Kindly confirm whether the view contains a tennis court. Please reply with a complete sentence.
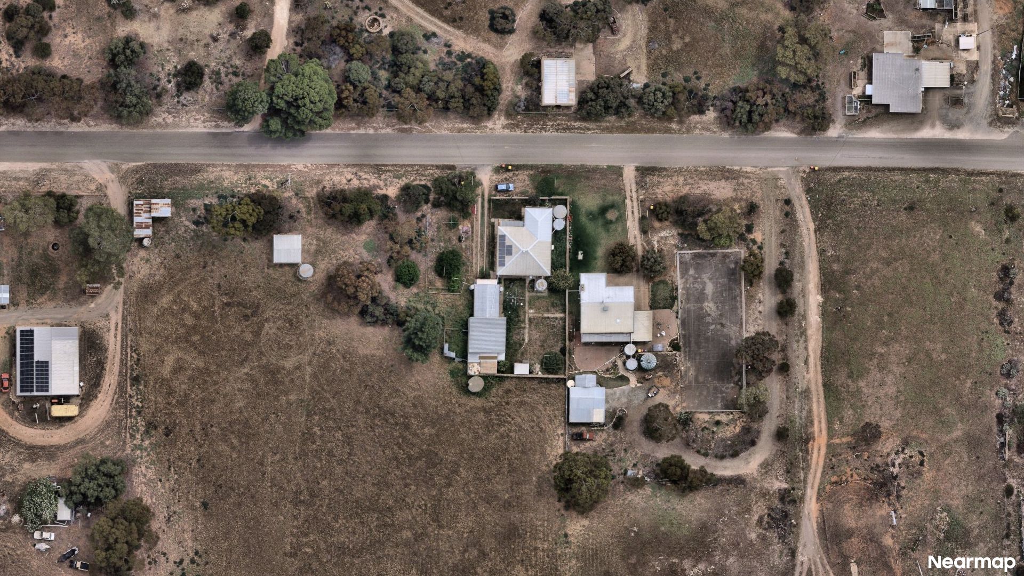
Yes, the frame does contain a tennis court.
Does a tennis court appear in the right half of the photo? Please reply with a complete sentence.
Yes, you'll find a tennis court in the right half of the photo.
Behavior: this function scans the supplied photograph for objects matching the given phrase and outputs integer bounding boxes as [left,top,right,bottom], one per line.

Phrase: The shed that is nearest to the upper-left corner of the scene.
[133,199,170,237]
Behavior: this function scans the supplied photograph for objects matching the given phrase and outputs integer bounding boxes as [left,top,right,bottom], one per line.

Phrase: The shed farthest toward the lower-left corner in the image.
[56,497,70,521]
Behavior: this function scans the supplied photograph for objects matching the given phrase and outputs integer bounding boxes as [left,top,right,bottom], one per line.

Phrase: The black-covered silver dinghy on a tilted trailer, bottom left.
[56,547,78,565]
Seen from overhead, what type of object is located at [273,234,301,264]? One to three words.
shed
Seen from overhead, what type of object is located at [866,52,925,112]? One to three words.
house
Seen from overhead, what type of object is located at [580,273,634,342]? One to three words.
house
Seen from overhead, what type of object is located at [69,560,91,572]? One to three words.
vehicle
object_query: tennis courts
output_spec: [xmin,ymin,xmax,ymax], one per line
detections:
[678,251,744,411]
